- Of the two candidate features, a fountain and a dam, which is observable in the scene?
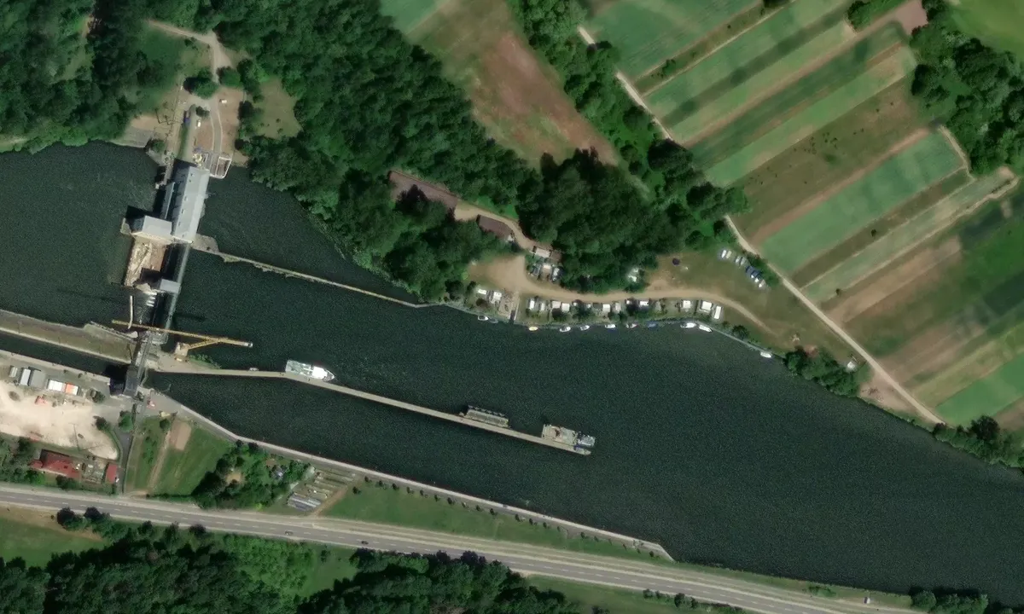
dam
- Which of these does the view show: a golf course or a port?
port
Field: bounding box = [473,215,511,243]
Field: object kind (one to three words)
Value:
barn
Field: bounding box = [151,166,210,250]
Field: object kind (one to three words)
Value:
building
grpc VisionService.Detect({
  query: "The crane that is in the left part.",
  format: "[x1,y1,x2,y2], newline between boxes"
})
[112,319,253,362]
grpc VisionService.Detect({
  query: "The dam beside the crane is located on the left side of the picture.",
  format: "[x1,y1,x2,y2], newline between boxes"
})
[123,236,189,344]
